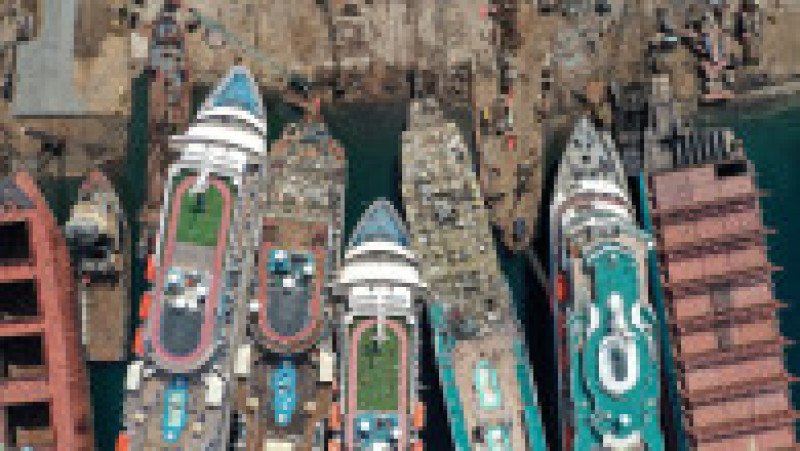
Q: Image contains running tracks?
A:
Yes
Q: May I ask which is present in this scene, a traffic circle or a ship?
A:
ship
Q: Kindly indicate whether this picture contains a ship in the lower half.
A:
Yes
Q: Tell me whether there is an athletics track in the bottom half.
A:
Yes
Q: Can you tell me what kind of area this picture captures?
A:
parking lot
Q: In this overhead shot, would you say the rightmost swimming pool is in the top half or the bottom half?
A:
bottom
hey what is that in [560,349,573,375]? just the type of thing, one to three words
boat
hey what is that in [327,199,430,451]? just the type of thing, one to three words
ship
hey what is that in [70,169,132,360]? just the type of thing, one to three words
vessel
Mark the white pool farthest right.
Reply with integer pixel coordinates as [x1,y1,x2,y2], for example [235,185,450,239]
[600,331,638,395]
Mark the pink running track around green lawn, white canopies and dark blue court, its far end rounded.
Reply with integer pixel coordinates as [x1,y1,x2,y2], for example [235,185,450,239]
[155,172,234,359]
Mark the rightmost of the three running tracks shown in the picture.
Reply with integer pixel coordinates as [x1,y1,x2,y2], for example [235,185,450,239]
[347,321,408,451]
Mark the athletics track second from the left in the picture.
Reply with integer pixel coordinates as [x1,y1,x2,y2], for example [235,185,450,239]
[261,242,323,343]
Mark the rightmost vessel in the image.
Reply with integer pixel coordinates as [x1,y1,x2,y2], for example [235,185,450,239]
[628,114,800,451]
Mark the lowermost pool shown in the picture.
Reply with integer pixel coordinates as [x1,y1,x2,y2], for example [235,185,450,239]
[482,424,510,451]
